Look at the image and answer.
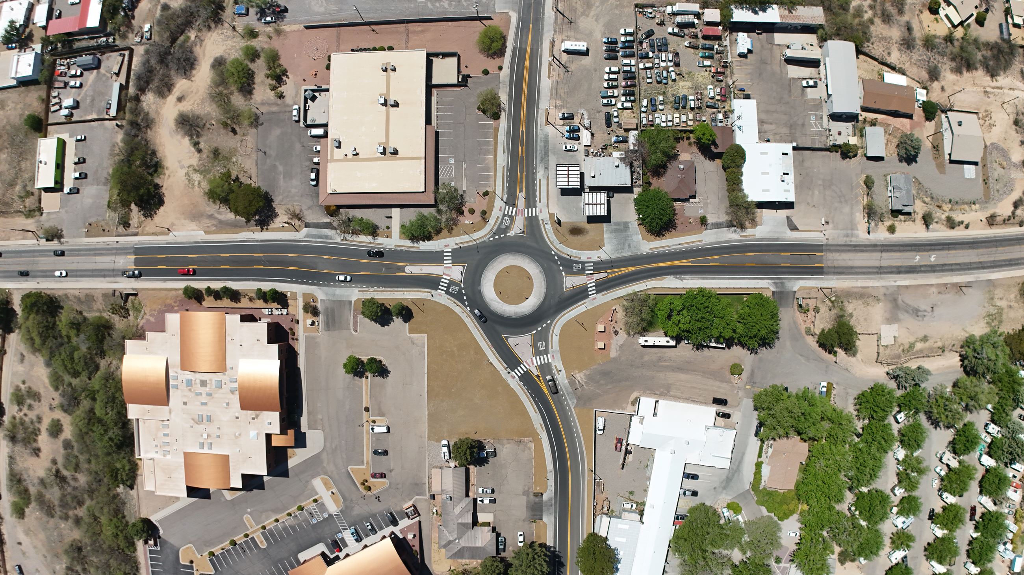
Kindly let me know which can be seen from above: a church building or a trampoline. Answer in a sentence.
I can see a church building in this picture.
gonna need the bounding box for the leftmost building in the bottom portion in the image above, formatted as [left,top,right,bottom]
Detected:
[120,311,298,498]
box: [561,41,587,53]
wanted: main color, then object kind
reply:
white vehicle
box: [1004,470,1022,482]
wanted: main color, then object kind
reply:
white vehicle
